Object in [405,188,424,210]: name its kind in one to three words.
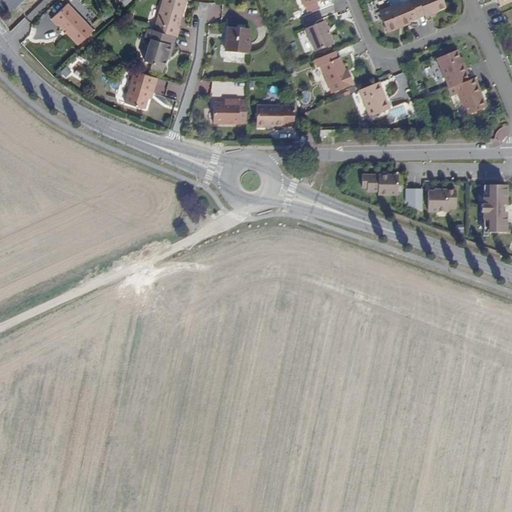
shed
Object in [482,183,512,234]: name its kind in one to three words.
house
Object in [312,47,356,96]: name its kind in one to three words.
house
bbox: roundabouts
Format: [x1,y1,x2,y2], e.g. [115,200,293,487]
[220,150,282,210]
